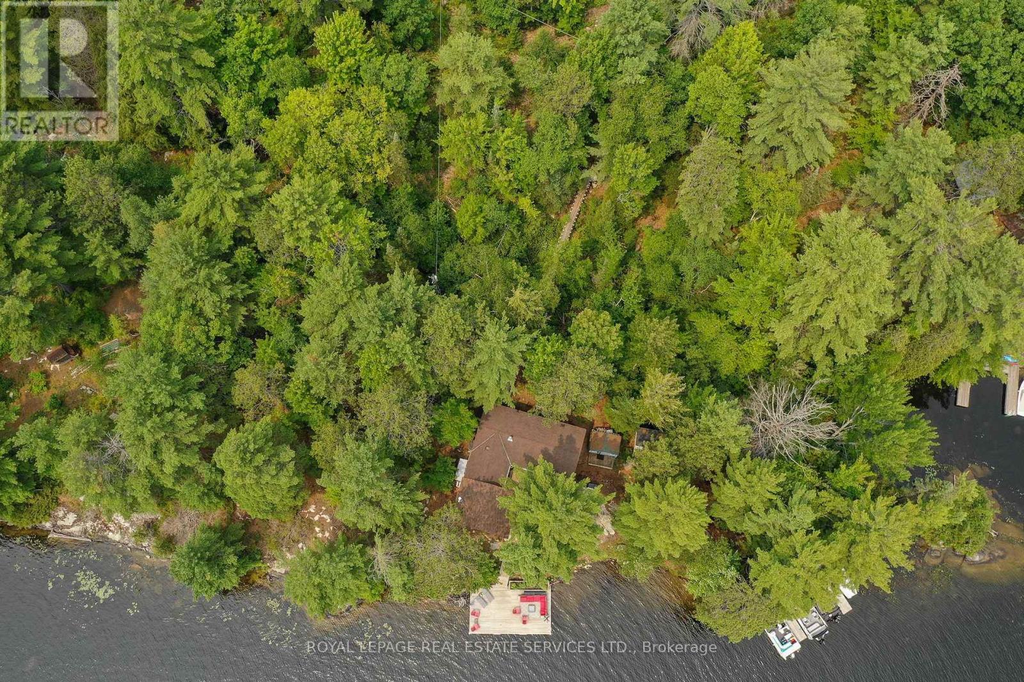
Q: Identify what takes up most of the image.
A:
trees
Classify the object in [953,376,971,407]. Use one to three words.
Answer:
pier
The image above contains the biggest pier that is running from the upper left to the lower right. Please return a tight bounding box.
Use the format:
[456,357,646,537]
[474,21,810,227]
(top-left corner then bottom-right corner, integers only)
[775,601,808,642]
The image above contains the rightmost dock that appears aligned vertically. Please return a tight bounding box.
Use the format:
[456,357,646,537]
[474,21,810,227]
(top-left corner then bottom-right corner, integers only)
[1001,366,1019,415]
